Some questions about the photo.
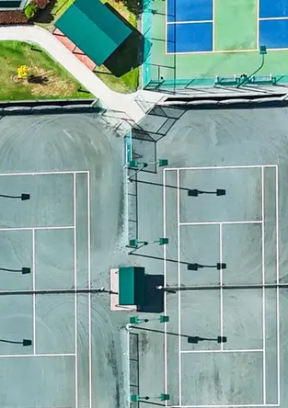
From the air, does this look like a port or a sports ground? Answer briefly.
sports ground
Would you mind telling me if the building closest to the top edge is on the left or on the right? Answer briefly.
left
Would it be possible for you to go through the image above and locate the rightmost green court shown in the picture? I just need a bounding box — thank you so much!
[147,0,288,86]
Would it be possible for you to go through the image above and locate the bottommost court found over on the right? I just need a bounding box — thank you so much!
[128,101,288,408]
